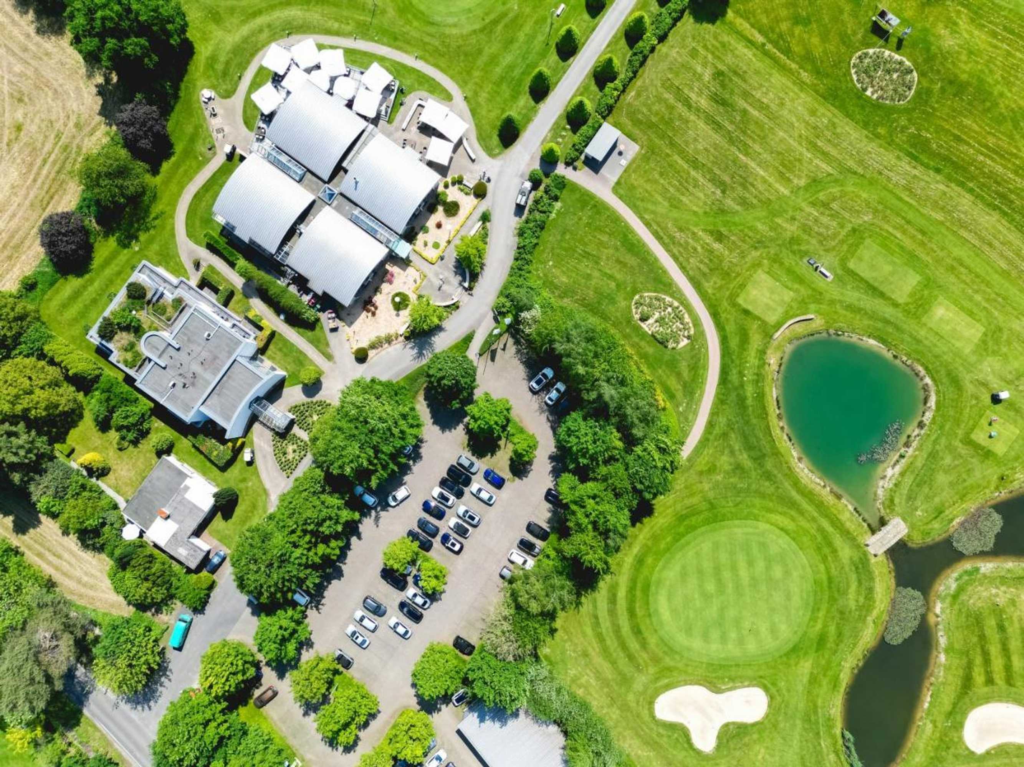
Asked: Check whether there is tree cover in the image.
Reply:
Yes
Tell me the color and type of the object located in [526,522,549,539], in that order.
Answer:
black car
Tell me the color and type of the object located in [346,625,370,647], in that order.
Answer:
white car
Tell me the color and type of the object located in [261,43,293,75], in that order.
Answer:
white umbrella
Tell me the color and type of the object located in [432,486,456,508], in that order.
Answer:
white car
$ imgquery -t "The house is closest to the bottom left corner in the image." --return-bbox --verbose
[122,456,220,570]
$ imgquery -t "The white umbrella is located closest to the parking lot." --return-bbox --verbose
[123,524,140,539]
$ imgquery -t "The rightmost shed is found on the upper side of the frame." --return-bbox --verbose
[585,123,621,165]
